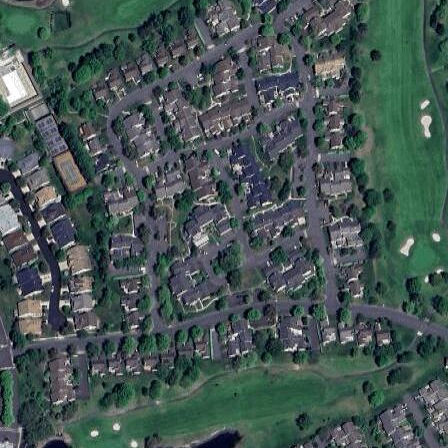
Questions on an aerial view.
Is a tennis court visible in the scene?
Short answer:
Yes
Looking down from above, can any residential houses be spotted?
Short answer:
Yes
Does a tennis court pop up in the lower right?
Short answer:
No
